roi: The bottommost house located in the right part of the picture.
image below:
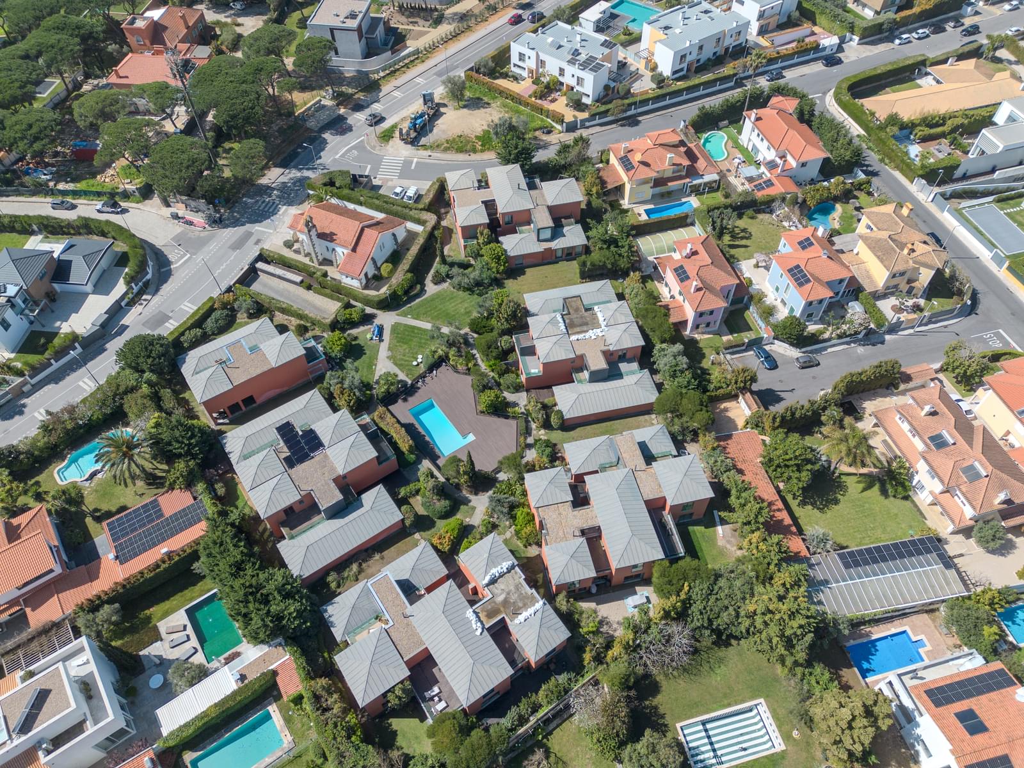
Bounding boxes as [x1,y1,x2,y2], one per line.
[876,651,1024,768]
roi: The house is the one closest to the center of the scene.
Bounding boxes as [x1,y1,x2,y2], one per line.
[513,280,658,431]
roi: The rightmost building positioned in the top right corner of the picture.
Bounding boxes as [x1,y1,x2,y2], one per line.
[948,96,1024,175]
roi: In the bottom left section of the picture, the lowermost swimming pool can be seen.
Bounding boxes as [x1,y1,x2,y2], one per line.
[181,701,292,768]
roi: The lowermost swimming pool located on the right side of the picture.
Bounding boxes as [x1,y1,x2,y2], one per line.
[675,697,783,768]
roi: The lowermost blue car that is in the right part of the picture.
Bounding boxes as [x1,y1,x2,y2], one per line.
[751,344,778,371]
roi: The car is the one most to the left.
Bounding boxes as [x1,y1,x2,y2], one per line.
[48,198,75,211]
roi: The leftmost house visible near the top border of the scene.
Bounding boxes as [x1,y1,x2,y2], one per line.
[107,0,217,97]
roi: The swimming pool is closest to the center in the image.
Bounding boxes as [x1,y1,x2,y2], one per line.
[409,398,476,458]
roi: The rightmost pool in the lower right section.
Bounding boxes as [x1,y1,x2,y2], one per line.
[997,601,1024,647]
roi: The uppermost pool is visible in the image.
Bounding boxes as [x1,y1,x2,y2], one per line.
[613,0,664,29]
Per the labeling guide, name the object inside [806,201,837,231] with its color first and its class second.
blue swimming pool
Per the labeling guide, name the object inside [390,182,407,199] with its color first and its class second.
white car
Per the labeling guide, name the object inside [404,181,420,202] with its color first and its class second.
white car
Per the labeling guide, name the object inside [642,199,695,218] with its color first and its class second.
blue swimming pool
